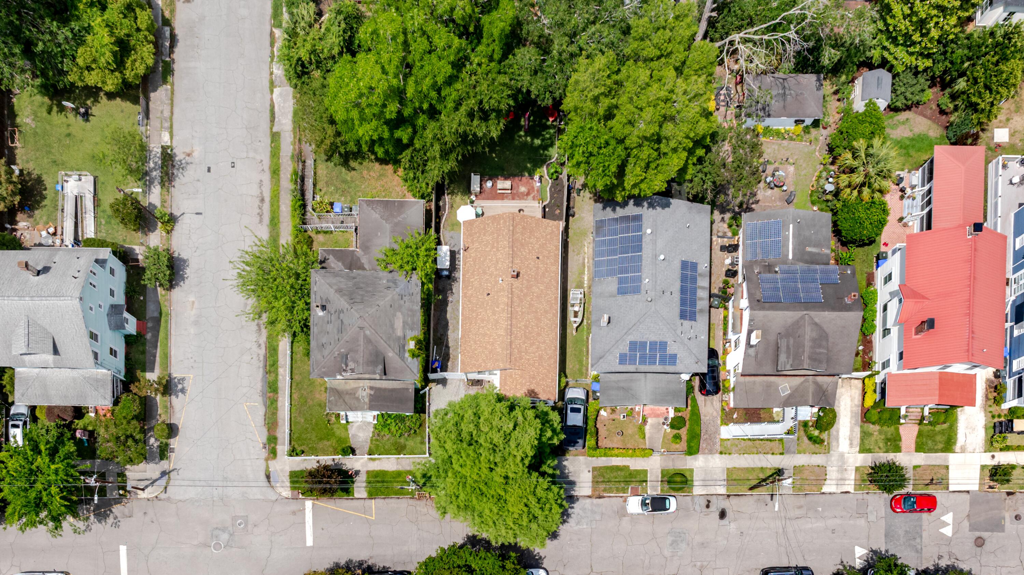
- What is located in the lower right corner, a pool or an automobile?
automobile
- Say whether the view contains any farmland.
No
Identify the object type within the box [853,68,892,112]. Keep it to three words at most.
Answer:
shed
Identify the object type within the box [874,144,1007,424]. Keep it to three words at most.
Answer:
house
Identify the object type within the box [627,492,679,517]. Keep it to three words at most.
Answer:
car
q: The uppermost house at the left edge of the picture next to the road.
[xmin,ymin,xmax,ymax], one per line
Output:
[0,247,146,423]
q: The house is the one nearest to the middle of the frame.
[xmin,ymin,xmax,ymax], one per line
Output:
[458,212,562,413]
